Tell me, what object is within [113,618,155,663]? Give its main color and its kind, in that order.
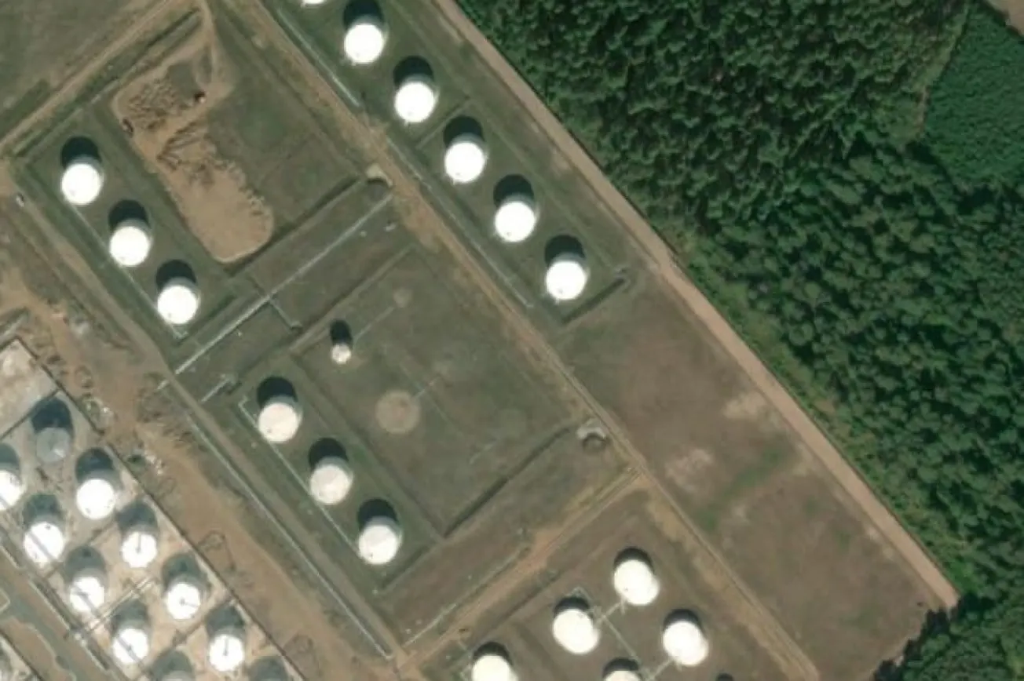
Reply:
white storage tank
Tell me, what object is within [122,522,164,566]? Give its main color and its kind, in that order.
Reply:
white storage tank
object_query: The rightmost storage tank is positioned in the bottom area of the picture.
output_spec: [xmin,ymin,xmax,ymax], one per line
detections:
[662,616,709,666]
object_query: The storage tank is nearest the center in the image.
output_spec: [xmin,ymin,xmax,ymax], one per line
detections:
[545,251,591,302]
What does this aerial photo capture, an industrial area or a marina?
industrial area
